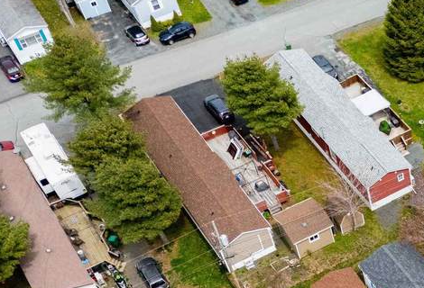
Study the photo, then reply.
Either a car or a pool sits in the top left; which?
car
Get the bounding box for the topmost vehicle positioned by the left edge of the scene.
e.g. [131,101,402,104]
[0,55,26,83]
